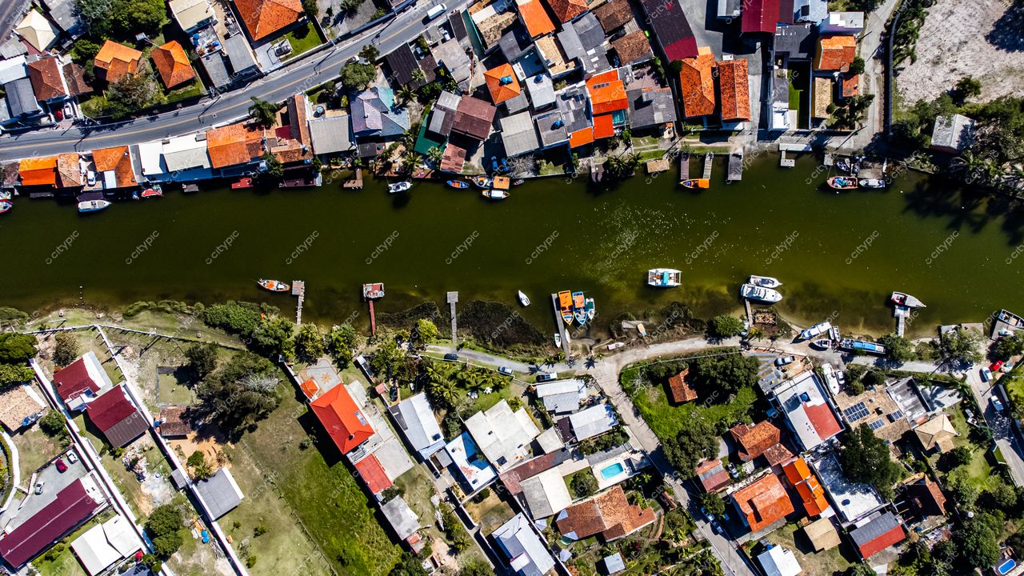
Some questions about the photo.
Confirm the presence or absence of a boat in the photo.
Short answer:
Yes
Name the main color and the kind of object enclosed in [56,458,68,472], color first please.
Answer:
red vehicle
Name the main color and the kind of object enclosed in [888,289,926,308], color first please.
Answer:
white boat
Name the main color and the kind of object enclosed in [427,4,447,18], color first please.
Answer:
white vehicle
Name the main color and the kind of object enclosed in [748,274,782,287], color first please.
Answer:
white boat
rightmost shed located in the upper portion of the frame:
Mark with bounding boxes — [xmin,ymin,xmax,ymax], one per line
[925,115,976,152]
